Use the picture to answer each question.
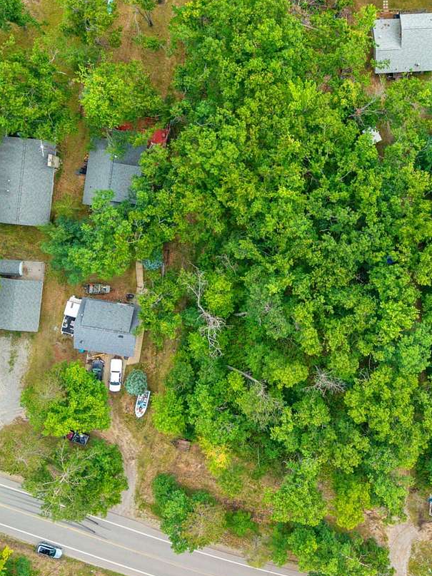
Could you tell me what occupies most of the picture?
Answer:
trees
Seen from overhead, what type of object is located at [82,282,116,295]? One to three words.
boat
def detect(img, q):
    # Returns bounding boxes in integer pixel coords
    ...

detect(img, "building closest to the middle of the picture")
[74,296,140,356]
